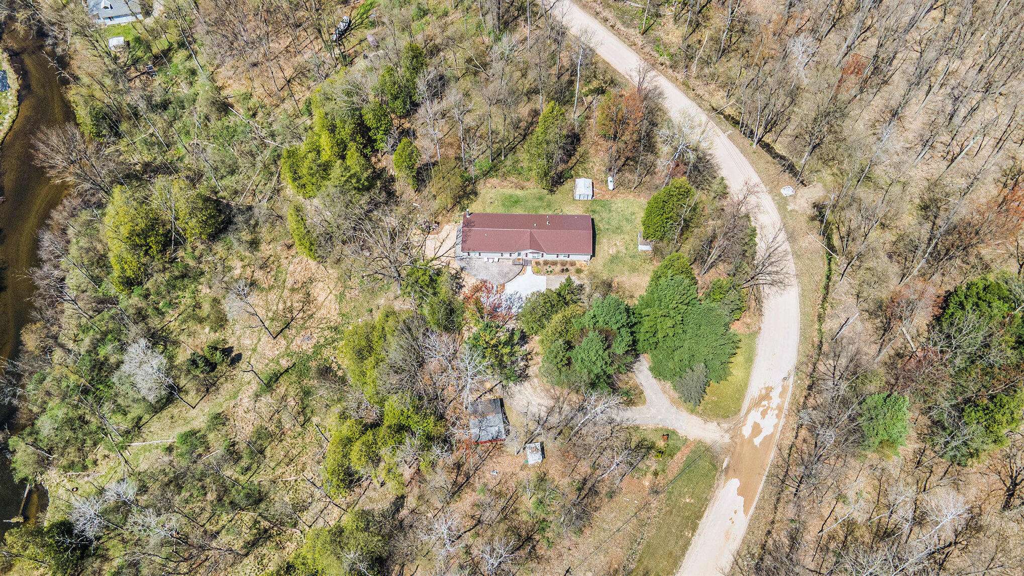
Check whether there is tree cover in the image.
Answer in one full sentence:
Yes, the picture does contain tree cover.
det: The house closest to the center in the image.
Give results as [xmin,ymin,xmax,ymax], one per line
[459,209,592,263]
